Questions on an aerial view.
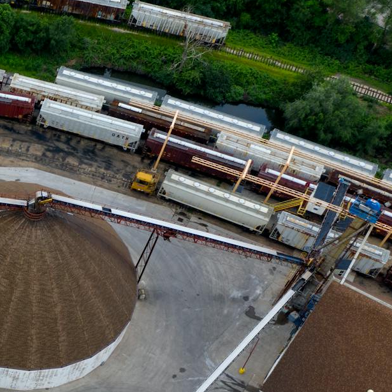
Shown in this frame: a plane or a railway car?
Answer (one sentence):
I can see a railway car in this picture.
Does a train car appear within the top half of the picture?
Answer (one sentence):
Yes, a train car can be seen within the top half of the picture.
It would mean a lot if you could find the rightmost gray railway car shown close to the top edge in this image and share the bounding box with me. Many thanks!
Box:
[125,1,227,47]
